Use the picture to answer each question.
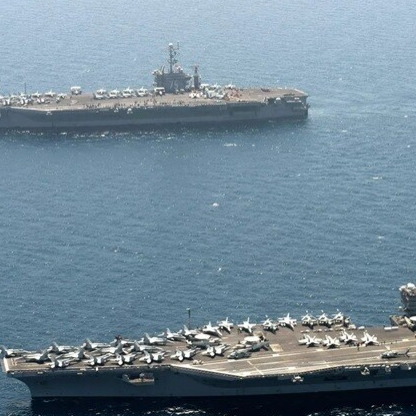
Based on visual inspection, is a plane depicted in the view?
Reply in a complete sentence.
Yes, the frame does contain a plane.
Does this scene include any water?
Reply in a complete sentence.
Yes, water shows up in the scene.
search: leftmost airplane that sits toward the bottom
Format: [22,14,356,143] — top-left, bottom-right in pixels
[0,344,31,358]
